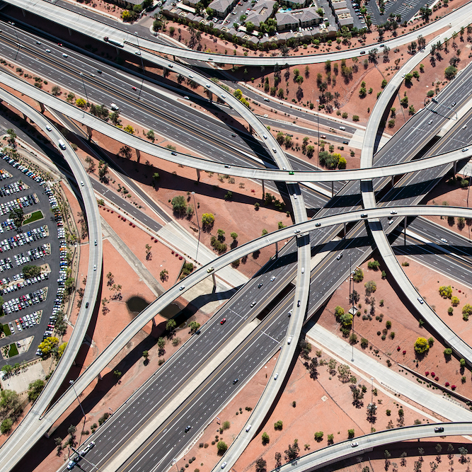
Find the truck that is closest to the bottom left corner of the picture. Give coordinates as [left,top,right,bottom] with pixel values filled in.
[71,444,93,466]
